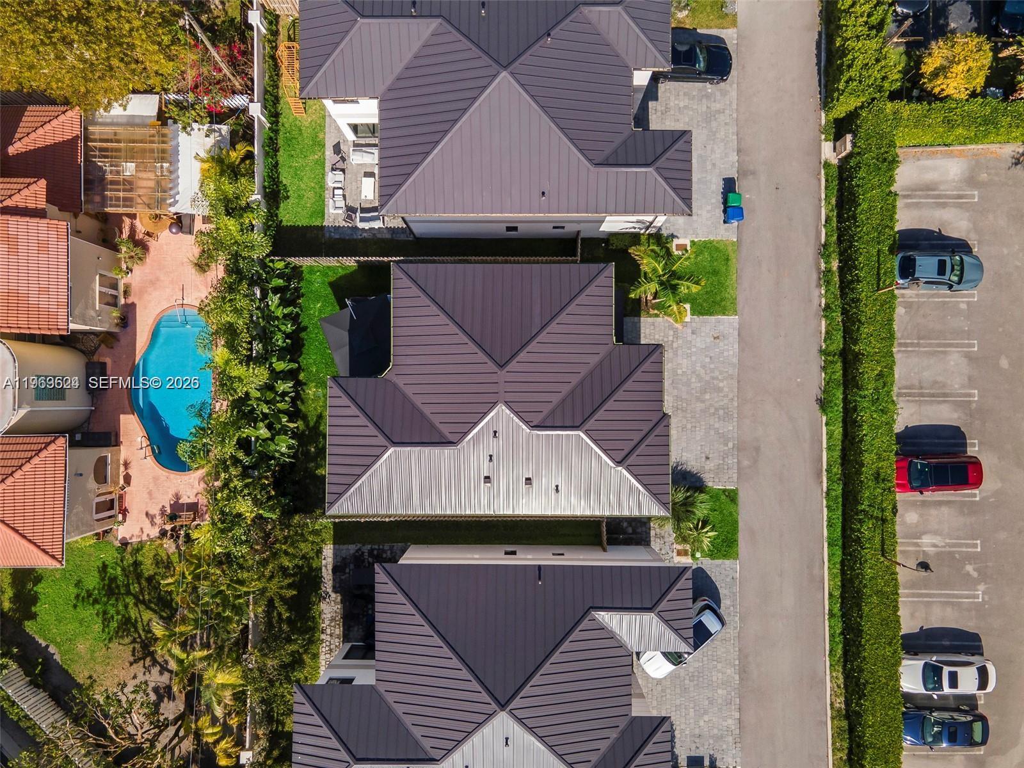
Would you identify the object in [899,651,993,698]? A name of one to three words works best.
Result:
car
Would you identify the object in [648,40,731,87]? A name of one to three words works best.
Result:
car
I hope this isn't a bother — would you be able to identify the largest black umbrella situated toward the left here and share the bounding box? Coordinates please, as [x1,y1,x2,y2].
[320,298,389,375]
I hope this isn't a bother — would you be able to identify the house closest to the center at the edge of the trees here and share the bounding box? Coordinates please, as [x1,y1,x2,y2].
[325,261,673,518]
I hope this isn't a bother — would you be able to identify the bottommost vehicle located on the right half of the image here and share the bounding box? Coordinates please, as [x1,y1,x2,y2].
[900,704,988,752]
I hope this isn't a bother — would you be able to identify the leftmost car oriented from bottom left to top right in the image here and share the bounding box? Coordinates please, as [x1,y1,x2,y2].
[642,597,720,679]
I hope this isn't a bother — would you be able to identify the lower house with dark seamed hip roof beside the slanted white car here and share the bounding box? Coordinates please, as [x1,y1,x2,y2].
[291,545,695,768]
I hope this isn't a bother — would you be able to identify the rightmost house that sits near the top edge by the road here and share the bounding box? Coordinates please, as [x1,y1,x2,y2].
[296,0,694,238]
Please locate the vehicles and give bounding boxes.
[648,40,731,87]
[900,704,988,752]
[895,249,982,293]
[989,0,1024,36]
[899,651,993,698]
[642,597,720,679]
[896,452,981,497]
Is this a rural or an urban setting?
urban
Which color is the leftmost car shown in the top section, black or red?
black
